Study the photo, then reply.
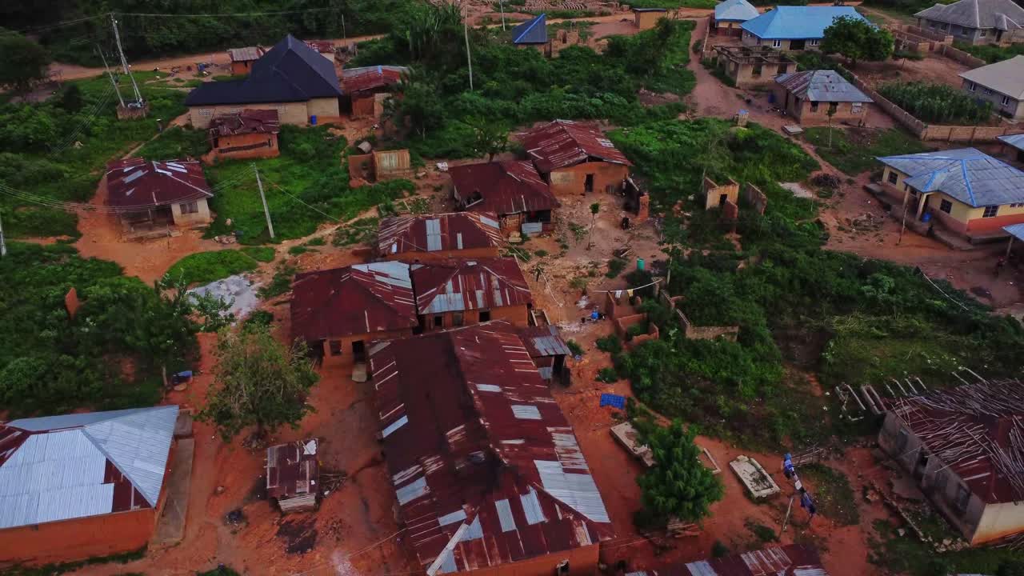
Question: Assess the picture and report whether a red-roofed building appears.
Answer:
Yes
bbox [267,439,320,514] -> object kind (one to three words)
shed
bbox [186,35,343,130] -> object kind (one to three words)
house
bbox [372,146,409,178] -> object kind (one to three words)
shed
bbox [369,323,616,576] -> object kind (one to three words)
house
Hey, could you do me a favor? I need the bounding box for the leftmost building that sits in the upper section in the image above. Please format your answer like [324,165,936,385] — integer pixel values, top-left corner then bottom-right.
[105,160,213,243]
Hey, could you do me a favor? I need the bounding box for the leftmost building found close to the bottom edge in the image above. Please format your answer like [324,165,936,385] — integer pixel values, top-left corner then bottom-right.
[0,405,179,563]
